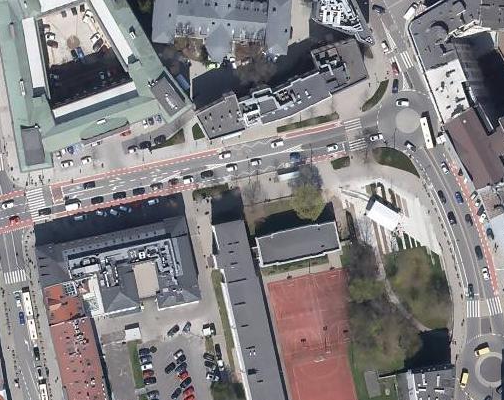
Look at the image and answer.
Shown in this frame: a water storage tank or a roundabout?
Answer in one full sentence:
The image shows a roundabout.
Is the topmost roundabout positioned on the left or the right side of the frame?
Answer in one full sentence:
It is on the right.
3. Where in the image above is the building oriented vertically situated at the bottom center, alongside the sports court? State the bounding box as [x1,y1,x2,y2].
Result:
[212,219,291,400]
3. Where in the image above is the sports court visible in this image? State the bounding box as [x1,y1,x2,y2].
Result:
[267,270,359,400]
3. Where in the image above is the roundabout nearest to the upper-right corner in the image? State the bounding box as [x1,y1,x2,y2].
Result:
[378,91,436,150]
